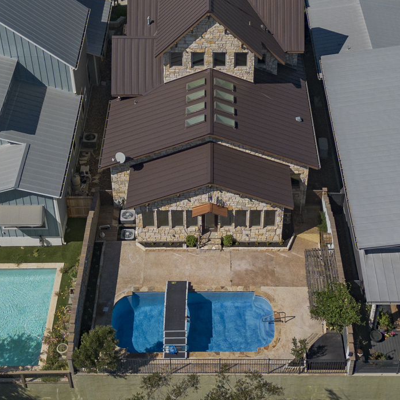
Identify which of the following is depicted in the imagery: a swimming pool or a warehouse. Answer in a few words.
swimming pool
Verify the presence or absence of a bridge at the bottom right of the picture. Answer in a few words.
No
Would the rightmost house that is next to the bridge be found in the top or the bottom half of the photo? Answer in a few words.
top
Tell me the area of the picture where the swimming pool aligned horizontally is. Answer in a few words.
bottom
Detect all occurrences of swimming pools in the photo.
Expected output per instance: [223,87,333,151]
[0,265,61,371]
[104,284,284,361]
